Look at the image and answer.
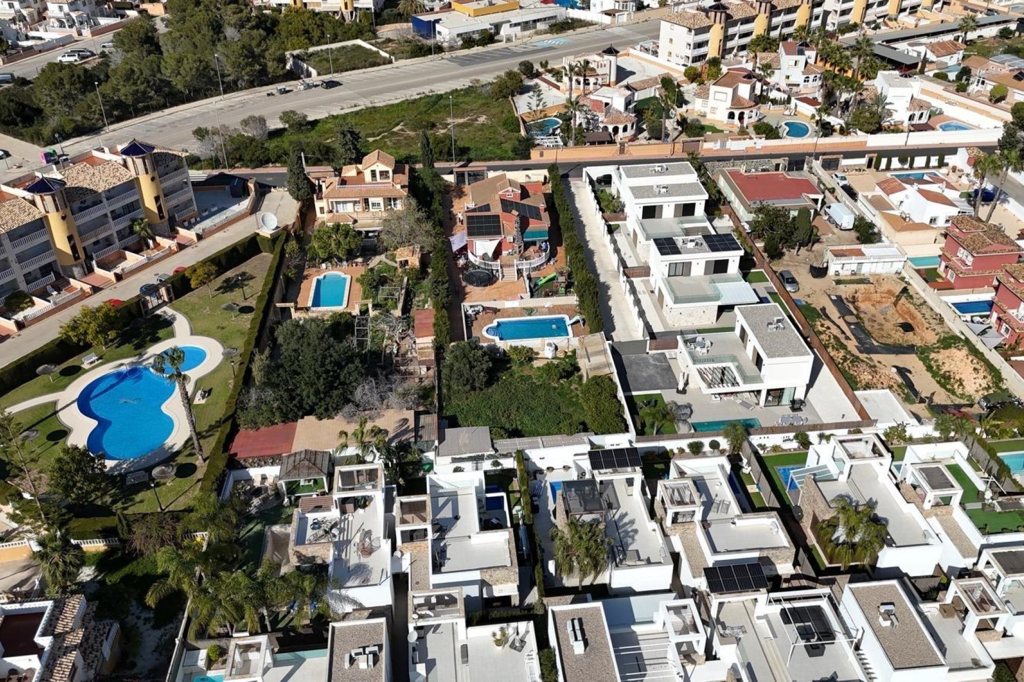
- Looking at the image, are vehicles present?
Yes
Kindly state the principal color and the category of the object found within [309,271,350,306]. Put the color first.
blue swimming pool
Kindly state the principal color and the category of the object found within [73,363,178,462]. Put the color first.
blue swimming pool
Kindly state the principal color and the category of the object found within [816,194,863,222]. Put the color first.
white van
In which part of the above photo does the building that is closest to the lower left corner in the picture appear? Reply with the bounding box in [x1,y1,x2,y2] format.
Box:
[0,601,117,682]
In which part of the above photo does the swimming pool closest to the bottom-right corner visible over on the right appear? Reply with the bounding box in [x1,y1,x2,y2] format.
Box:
[999,449,1024,473]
